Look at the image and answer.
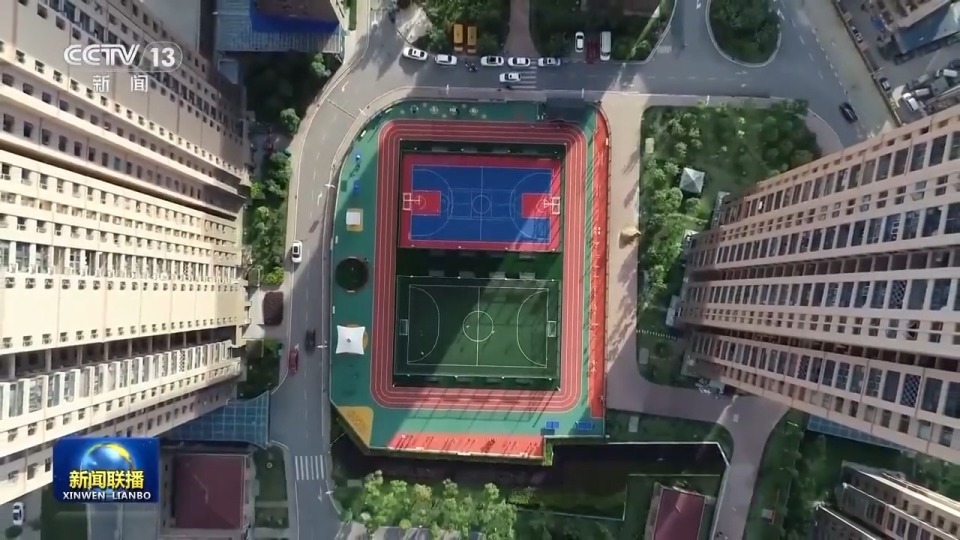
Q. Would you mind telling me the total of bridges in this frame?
0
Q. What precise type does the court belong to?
basketball court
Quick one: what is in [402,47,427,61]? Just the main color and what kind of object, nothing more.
white car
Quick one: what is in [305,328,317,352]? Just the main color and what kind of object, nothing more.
black vehicle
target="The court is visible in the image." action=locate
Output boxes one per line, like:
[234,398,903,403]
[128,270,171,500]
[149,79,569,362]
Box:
[399,152,562,251]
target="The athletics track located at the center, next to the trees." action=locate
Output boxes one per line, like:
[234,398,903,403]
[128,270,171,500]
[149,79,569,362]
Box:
[371,121,585,412]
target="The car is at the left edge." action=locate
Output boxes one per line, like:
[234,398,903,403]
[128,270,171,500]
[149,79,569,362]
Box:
[11,501,25,524]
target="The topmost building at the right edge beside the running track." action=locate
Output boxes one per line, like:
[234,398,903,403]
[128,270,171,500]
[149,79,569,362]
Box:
[684,105,960,472]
